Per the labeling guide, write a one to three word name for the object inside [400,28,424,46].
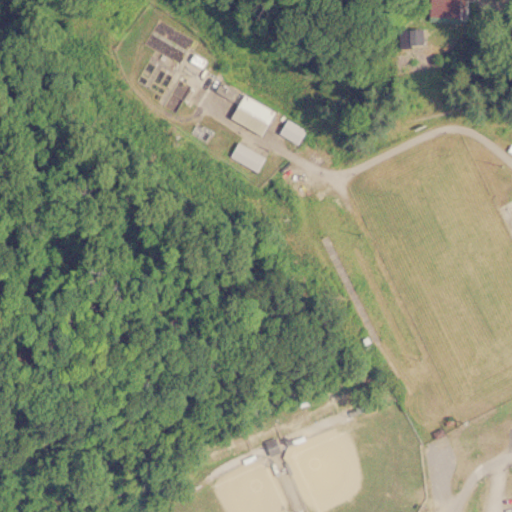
building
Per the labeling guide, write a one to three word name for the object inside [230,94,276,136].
building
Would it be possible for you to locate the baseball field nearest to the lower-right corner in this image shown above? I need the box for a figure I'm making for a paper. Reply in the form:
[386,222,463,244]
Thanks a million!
[268,401,424,512]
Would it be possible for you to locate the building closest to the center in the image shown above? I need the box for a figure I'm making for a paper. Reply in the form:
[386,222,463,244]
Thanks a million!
[231,142,267,174]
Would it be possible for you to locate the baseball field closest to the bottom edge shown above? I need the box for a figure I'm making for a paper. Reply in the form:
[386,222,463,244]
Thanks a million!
[214,462,290,512]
